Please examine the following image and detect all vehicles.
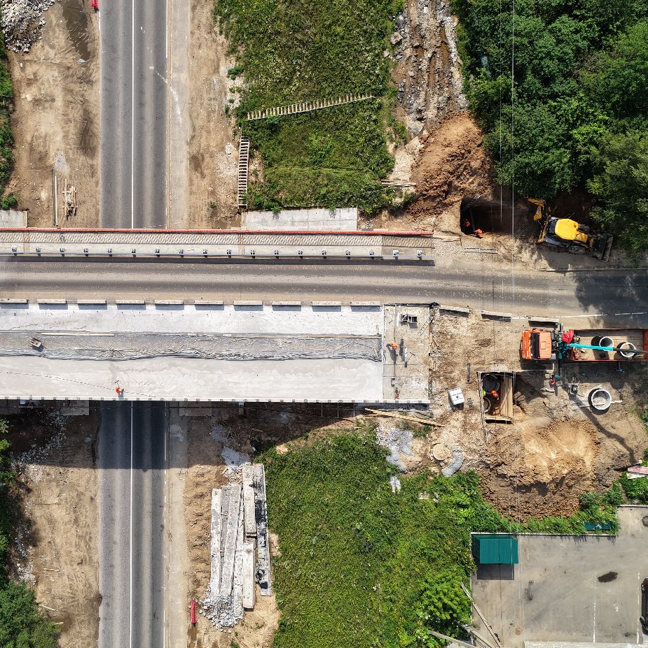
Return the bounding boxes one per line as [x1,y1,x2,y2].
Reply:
[514,195,597,260]
[520,319,648,381]
[639,577,648,635]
